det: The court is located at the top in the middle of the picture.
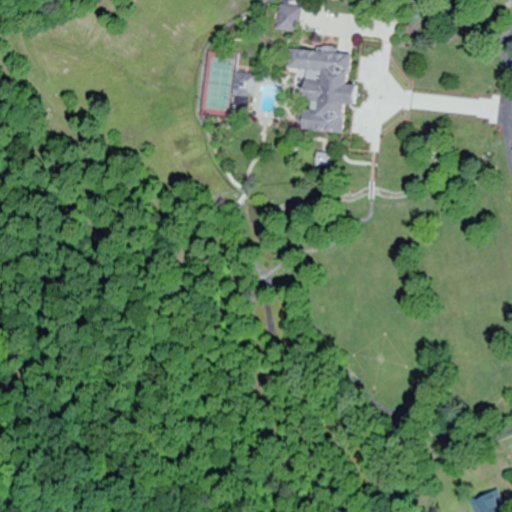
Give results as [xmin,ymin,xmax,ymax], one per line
[202,50,237,116]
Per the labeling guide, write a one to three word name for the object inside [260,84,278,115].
swimming pool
